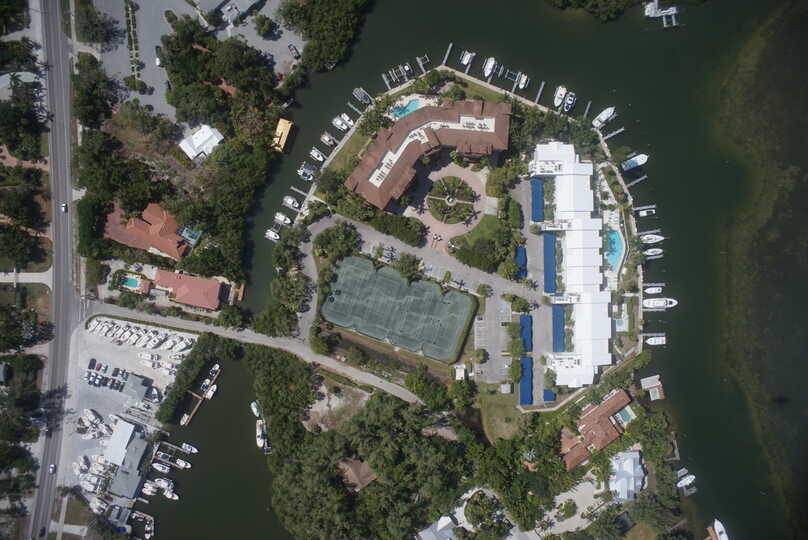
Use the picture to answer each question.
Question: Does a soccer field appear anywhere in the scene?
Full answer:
No, the picture doesn't show any soccer field.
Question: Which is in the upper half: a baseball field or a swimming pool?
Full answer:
It is a swimming pool that can be seen in the upper half.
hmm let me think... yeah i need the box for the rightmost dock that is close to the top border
[645,0,678,28]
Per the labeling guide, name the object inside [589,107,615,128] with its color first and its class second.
white boat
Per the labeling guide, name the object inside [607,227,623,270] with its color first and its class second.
blue swimming pool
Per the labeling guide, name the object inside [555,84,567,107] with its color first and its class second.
white boat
